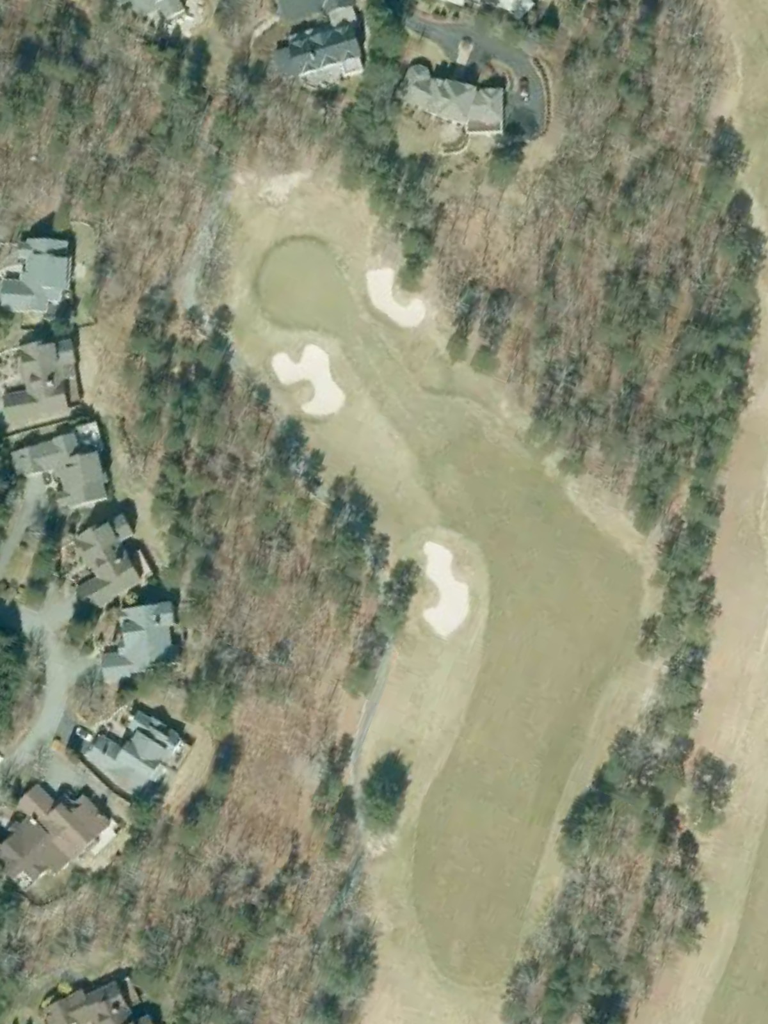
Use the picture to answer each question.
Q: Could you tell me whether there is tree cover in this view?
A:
Yes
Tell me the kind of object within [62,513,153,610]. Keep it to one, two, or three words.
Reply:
house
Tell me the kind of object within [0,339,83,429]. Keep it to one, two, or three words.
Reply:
house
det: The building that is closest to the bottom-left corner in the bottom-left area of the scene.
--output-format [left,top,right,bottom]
[41,977,140,1024]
